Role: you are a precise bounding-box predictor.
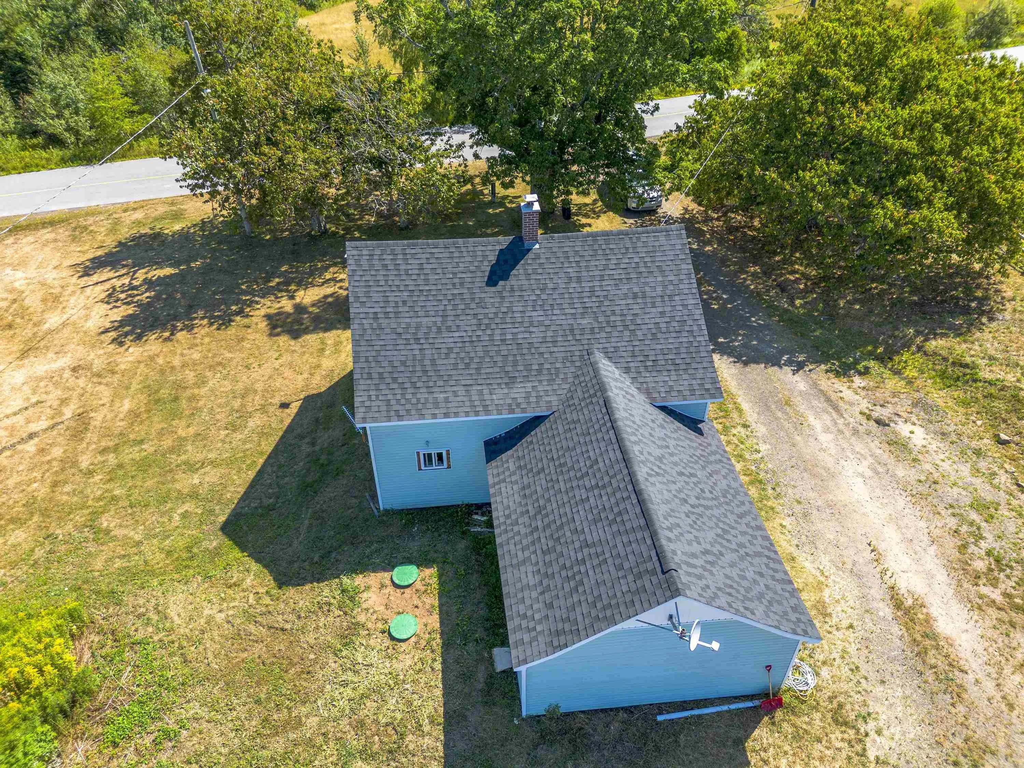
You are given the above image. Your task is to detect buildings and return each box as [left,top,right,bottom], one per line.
[346,195,822,722]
